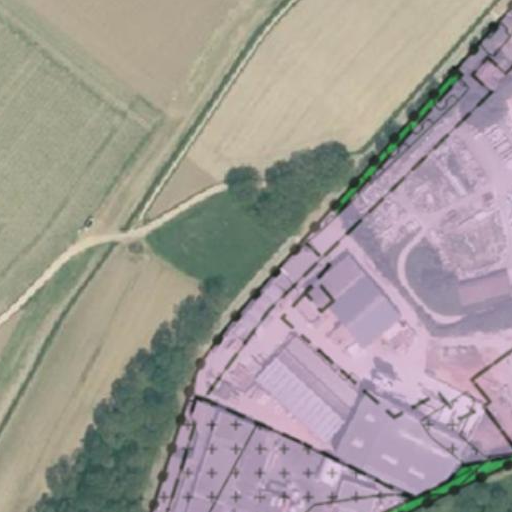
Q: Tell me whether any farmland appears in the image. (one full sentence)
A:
Yes, farmland shows up in the scene.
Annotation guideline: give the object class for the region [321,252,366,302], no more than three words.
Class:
building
